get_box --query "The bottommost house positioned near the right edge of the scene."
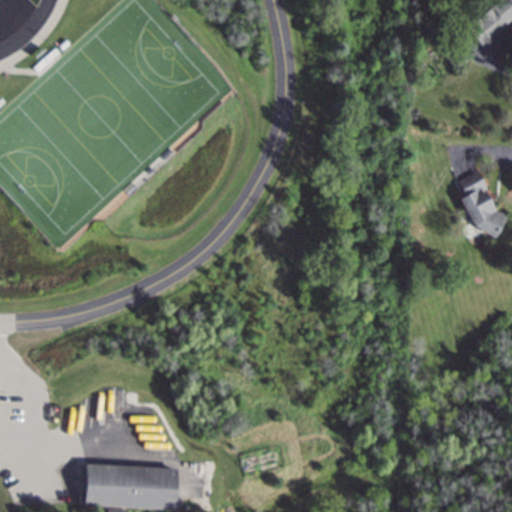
[460,168,508,239]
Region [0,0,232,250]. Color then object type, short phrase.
green sports field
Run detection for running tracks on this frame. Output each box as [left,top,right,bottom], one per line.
[0,0,70,77]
